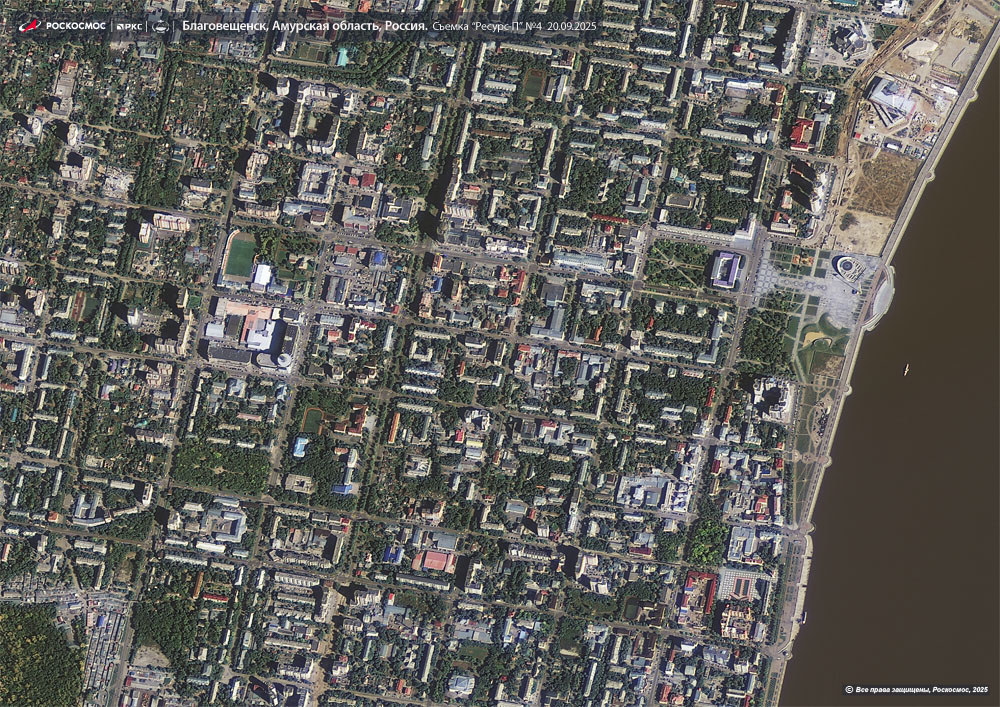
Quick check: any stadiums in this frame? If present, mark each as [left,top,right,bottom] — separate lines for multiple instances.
[221,229,259,284]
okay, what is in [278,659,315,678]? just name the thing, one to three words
building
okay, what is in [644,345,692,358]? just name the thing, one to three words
building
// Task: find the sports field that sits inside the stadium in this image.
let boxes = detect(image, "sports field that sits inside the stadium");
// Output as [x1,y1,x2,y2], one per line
[226,238,256,277]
